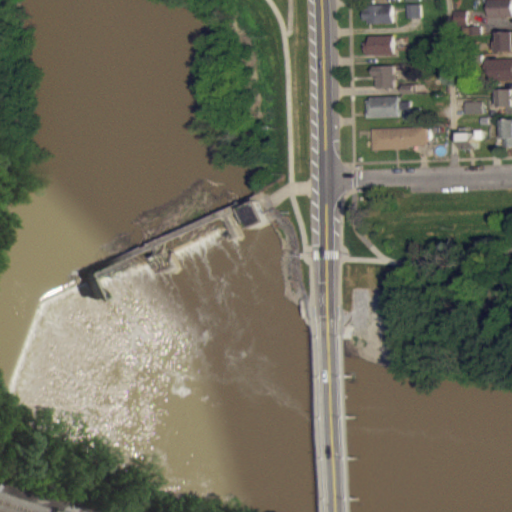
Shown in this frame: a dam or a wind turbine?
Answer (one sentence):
There is a dam in the scene.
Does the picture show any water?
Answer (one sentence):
Yes, some water is visible.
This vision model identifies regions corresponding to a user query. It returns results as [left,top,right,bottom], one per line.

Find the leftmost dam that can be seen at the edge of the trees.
[6,271,80,396]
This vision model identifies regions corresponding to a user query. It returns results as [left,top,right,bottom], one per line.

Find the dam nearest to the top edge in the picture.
[80,204,246,300]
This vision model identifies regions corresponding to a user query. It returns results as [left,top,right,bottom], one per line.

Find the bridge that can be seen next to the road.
[300,300,362,512]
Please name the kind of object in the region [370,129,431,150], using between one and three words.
building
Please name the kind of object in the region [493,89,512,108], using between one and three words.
house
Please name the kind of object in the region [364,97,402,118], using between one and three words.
house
